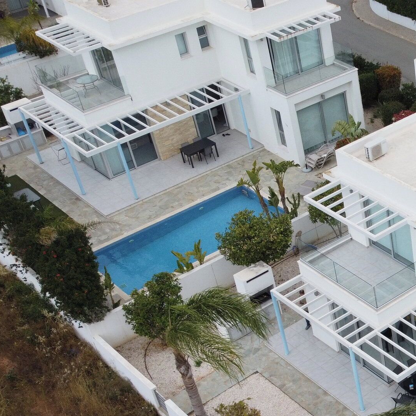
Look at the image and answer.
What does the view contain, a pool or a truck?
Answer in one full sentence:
Visible in the photo is a pool.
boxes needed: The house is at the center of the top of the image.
[22,0,360,200]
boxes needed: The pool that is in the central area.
[100,173,296,290]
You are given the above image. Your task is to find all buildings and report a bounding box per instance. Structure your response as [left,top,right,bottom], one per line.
[22,0,360,200]
[273,110,416,413]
